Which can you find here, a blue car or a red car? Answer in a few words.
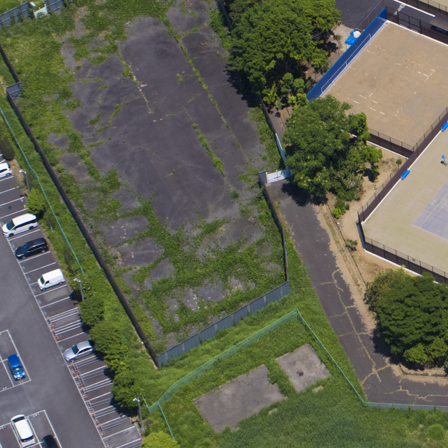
blue car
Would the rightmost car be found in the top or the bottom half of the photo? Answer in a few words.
bottom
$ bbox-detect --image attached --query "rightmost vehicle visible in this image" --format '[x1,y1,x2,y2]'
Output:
[63,340,97,362]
